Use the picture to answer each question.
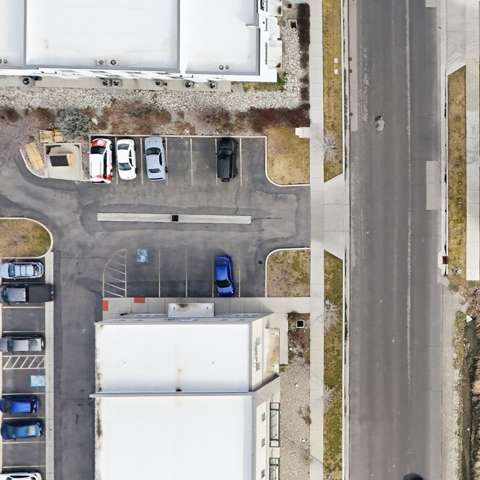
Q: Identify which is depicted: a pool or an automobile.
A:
automobile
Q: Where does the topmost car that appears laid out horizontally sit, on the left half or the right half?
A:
left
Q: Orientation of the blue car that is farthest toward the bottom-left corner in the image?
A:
from left to right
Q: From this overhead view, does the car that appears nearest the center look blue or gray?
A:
blue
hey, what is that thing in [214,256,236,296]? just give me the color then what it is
blue car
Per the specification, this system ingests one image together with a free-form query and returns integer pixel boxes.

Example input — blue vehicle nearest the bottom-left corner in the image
[2,420,46,441]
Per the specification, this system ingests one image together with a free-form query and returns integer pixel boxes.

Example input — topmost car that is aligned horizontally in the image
[0,261,46,280]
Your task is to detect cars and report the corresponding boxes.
[0,471,43,480]
[88,138,114,183]
[143,136,167,181]
[215,140,238,182]
[214,256,236,296]
[0,261,46,280]
[0,334,46,354]
[1,394,41,414]
[115,138,138,180]
[2,420,46,441]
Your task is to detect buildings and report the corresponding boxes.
[90,303,280,480]
[0,0,283,83]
